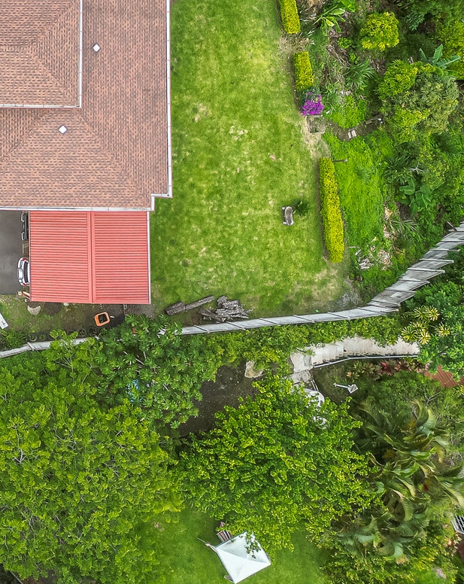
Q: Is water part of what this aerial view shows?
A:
No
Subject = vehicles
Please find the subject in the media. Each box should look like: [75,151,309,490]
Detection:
[16,254,29,287]
[19,212,28,241]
